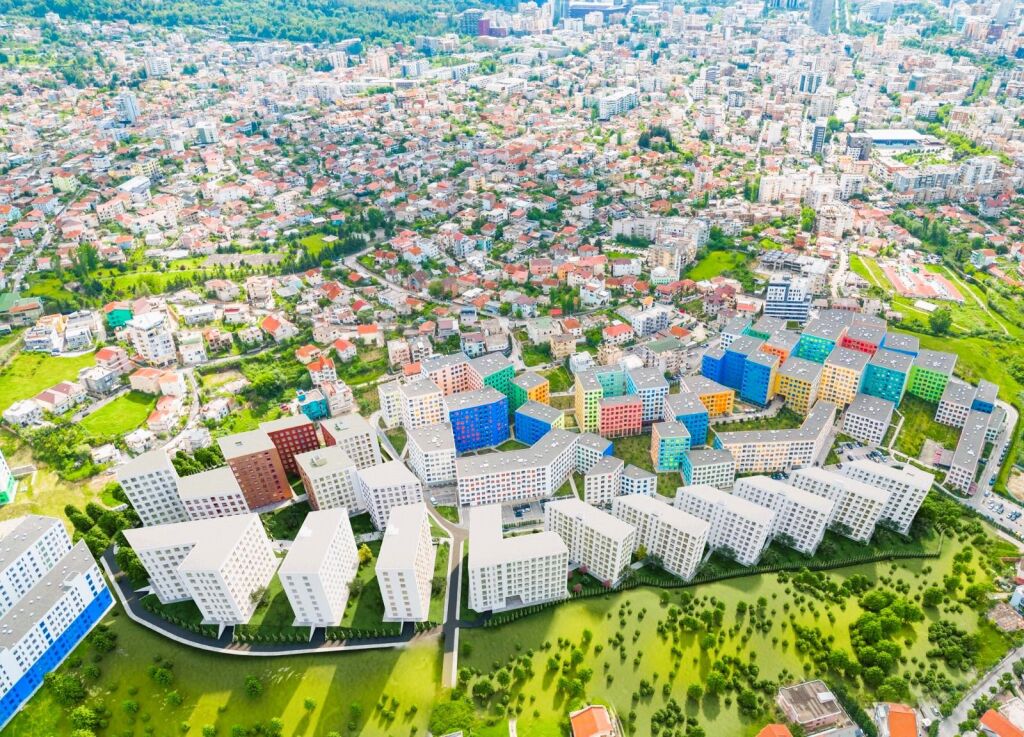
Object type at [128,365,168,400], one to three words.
house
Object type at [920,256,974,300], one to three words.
shed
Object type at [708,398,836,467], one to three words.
building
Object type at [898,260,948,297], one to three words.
shed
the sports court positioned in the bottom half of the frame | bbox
[917,440,954,466]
